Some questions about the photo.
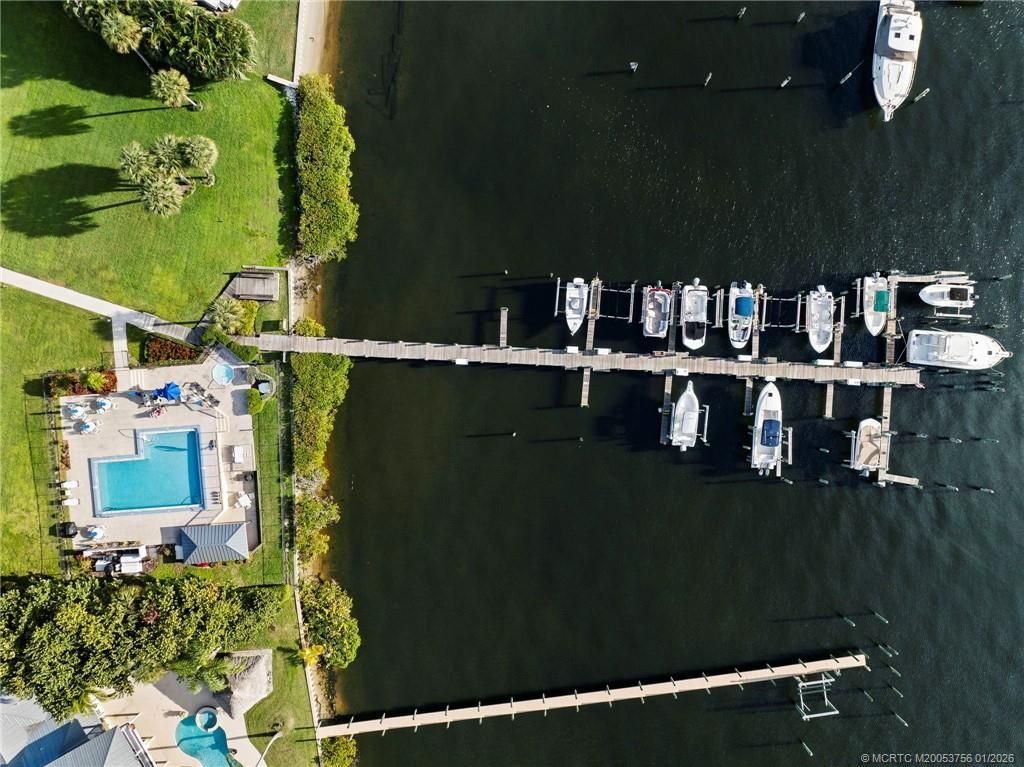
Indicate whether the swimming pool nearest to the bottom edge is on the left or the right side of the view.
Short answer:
left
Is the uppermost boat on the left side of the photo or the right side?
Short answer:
right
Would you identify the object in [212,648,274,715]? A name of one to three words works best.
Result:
shed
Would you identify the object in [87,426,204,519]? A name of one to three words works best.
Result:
swimming pool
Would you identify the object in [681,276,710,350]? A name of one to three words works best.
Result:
boat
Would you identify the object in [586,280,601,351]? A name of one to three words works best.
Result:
pier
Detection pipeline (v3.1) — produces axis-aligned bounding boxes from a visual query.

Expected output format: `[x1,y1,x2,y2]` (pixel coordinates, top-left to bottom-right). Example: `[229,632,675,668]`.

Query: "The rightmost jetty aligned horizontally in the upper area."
[885,269,970,286]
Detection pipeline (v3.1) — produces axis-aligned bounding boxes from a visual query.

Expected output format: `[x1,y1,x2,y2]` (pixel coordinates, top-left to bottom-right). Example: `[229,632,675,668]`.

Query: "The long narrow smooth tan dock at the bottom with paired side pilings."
[317,648,868,741]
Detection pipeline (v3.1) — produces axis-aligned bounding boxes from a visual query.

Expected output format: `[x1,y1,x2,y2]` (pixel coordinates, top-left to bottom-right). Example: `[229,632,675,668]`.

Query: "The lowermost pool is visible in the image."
[176,708,231,767]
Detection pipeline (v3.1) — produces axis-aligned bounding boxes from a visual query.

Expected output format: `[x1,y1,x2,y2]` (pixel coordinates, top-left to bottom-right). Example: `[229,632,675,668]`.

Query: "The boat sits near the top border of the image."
[869,0,926,122]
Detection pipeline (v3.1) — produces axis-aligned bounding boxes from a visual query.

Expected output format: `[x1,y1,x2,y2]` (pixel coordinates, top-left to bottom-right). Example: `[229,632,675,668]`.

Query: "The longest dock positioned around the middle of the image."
[262,333,920,389]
